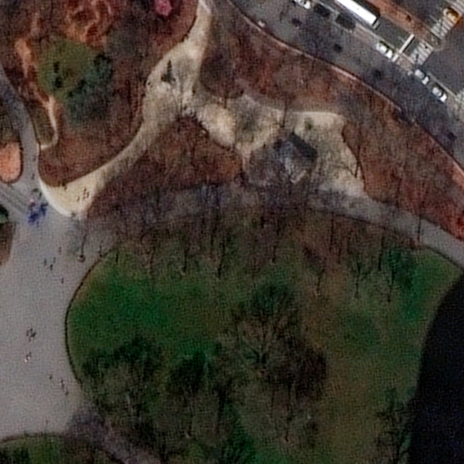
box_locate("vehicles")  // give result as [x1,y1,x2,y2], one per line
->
[429,85,449,103]
[338,0,384,25]
[413,68,431,86]
[375,41,395,60]
[441,9,460,26]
